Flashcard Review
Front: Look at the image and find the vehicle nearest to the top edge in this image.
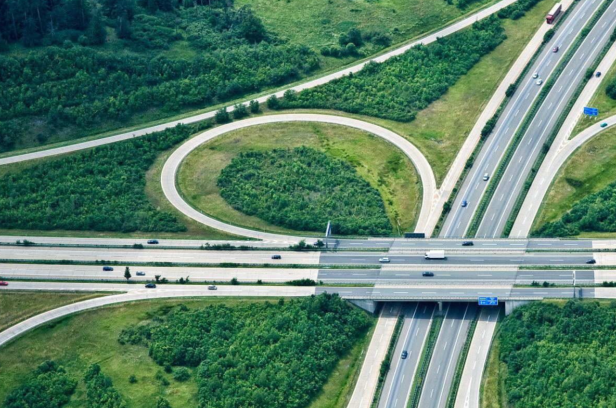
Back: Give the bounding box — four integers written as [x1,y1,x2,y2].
[546,4,561,24]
